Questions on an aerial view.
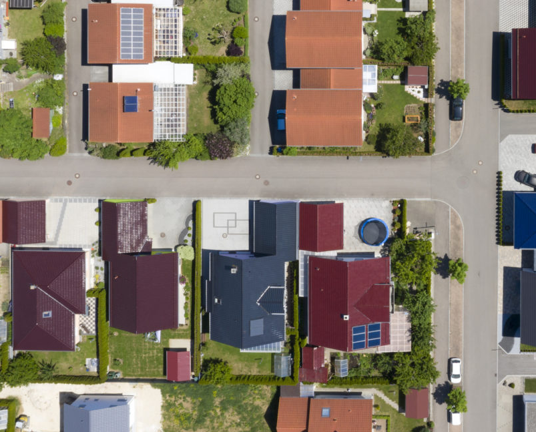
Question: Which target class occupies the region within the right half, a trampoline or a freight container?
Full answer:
There is a trampoline within the right half.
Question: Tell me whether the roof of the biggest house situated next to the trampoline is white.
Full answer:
No, the color of the roof of the biggest house situated next to the trampoline is red.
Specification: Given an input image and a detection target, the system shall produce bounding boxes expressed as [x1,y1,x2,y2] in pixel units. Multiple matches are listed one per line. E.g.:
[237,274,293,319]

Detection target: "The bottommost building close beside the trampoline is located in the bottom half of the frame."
[309,253,391,353]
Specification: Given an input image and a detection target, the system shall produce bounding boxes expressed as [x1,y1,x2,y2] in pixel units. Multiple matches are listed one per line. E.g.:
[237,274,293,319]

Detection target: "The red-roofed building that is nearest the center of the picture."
[299,201,343,253]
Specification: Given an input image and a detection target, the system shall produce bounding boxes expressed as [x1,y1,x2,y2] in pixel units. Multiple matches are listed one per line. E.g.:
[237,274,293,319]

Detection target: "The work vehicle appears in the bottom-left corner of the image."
[14,407,28,432]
